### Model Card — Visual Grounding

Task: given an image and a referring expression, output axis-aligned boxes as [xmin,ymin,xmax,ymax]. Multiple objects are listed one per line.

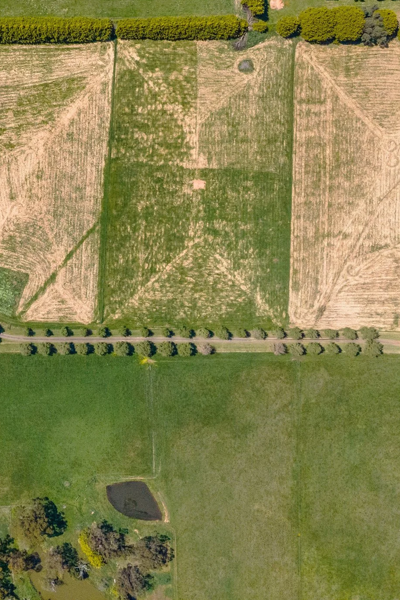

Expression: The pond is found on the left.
[106,481,163,520]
